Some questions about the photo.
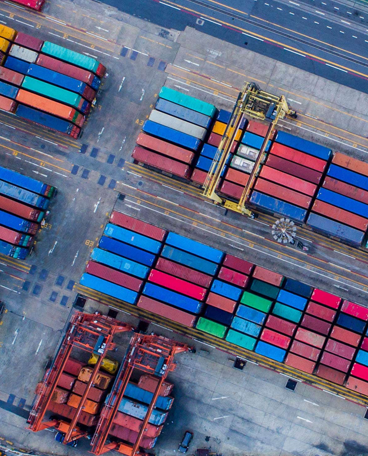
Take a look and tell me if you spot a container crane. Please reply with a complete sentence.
Yes, a container crane can be made out from above.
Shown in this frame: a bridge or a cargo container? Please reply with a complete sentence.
Of the two, only a cargo container appears.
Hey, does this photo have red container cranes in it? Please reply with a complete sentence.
Yes, a red container crane appears in the view.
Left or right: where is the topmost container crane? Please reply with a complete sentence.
The topmost container crane sits on the right side.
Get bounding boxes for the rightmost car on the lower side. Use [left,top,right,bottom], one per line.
[179,430,193,455]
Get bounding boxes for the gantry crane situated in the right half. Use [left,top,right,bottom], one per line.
[196,82,298,219]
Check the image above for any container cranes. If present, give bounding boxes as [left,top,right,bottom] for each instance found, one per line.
[196,82,298,219]
[79,328,199,456]
[16,309,142,451]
